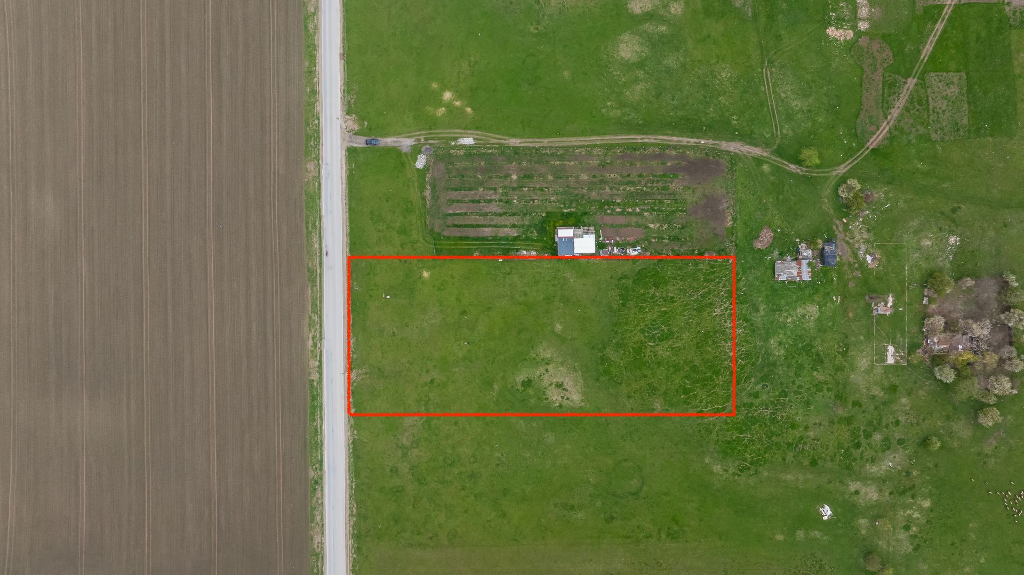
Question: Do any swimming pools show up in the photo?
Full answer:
No, there isn't any swimming pool down there.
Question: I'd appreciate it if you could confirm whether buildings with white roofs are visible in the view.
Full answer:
Yes, this view includes a building with a white roof.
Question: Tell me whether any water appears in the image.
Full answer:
No, there is no water in the image.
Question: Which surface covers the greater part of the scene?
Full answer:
What you mostly see from above here is grass.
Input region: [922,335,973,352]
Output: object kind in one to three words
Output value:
house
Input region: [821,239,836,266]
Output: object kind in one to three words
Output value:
shed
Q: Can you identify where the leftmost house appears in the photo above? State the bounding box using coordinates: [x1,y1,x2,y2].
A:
[555,226,595,256]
